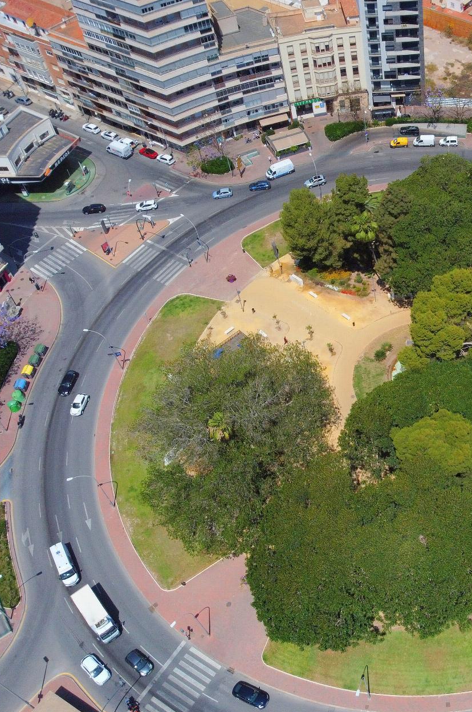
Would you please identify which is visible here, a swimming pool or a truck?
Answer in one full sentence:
The one in the frame is a truck.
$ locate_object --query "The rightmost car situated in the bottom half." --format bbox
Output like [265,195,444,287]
[231,683,269,708]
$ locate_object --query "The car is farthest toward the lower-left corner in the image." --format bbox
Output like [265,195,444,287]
[80,653,110,687]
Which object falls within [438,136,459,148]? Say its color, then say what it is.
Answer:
white vehicle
